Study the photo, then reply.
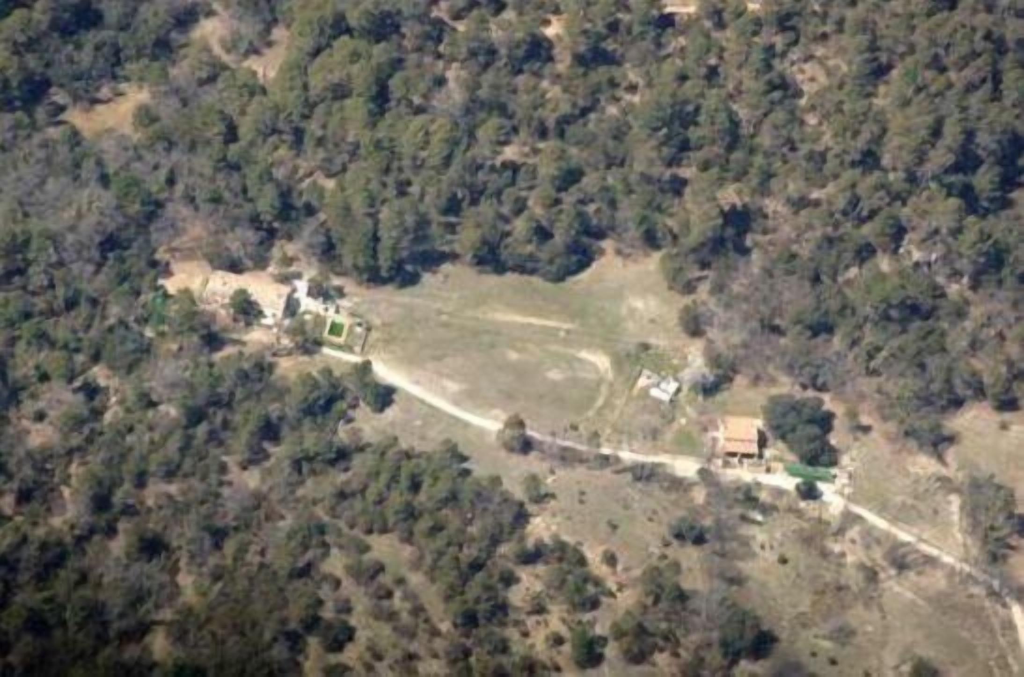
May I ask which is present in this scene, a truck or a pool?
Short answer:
pool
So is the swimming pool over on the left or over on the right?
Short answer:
left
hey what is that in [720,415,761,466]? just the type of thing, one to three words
house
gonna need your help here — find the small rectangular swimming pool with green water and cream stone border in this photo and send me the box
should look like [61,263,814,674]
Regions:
[324,314,351,345]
